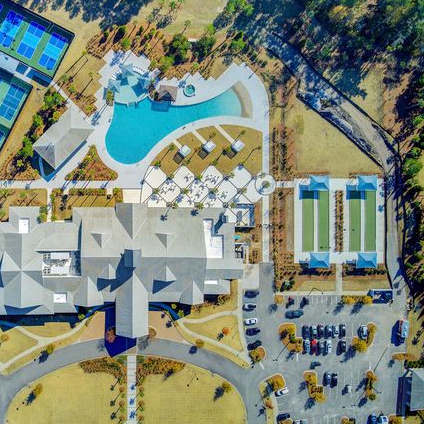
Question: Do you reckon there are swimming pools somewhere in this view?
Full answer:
Yes, looking at the shot, I can spot a swimming pool.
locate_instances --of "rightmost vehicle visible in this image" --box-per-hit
[395,318,408,339]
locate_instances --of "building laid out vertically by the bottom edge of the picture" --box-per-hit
[406,368,424,410]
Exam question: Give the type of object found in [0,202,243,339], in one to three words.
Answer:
building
